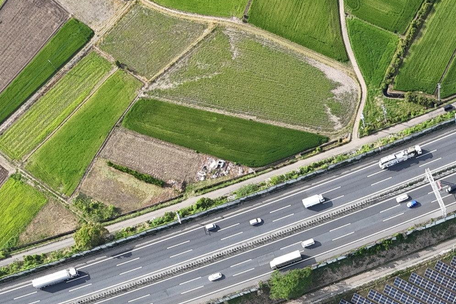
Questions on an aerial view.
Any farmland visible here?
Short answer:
Yes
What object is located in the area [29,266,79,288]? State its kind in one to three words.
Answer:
truck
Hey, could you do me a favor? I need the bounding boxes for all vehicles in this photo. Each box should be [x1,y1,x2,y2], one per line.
[378,146,423,169]
[408,201,417,208]
[209,273,222,281]
[442,104,454,114]
[207,224,216,231]
[270,250,303,270]
[396,195,409,203]
[302,240,315,248]
[29,266,79,288]
[301,195,326,209]
[249,218,262,226]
